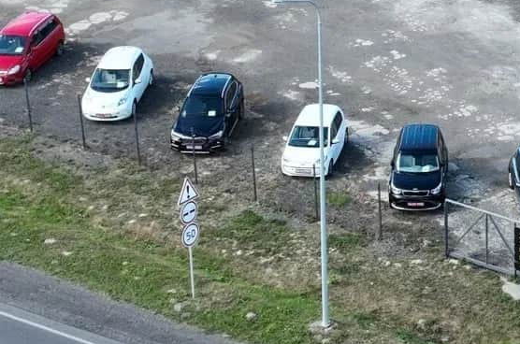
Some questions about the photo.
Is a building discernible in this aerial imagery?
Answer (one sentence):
No, the scene contains no building.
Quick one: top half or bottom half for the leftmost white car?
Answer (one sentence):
The top half of the photo is where the leftmost white car is.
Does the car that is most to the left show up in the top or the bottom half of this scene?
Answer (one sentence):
It is in the top half that the car that is most to the left appears.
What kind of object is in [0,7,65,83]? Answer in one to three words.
car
